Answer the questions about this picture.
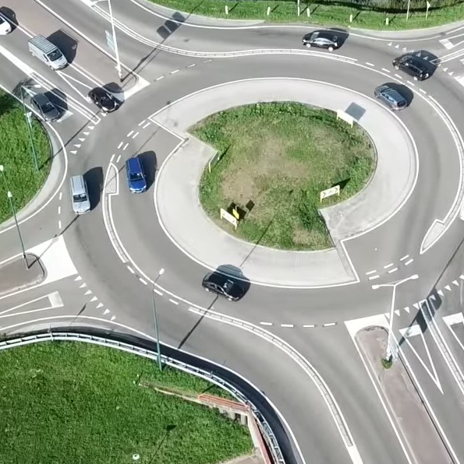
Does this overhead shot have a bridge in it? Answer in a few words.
No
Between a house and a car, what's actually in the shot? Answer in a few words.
car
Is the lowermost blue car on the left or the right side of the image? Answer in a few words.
left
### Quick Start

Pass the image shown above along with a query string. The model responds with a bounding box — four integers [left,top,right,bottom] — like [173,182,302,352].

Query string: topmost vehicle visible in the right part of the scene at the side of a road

[303,35,339,53]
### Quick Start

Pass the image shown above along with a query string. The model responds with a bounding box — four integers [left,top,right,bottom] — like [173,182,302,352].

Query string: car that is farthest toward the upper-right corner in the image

[391,59,430,82]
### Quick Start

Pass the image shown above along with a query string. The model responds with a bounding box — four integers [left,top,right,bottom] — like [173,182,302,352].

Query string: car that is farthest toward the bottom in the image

[198,274,244,305]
